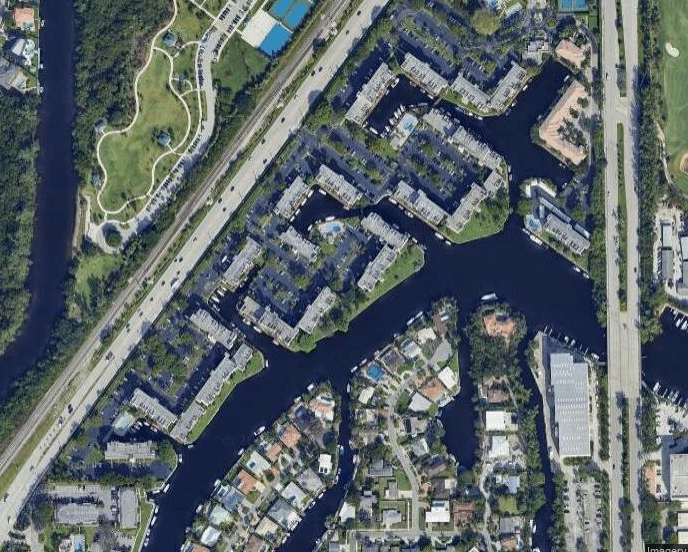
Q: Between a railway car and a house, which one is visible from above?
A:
house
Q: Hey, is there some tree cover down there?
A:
Yes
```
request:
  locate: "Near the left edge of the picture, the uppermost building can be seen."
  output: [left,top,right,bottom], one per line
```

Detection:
[14,6,34,26]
